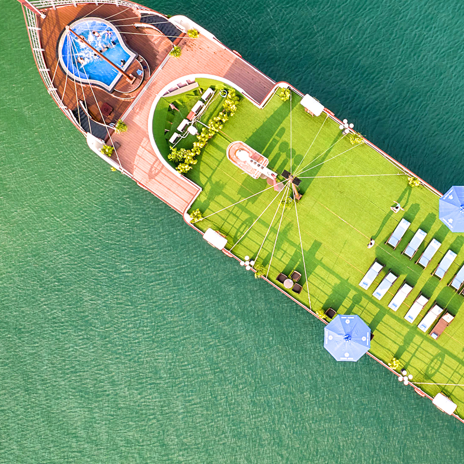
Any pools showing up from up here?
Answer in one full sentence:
Yes, the image includes a pool.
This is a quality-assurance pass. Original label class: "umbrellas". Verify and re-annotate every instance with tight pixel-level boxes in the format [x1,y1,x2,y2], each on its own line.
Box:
[325,316,372,362]
[439,187,464,233]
